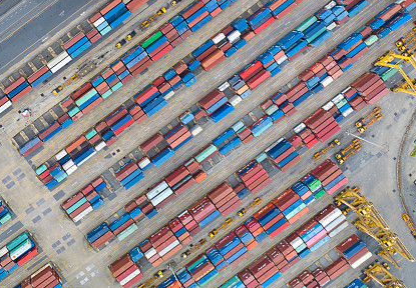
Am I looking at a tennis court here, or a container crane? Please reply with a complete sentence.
I can see a container crane in this picture.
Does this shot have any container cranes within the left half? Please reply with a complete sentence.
No, no container crane is visible within the left half.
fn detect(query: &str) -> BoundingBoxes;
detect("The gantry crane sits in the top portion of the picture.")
[373,51,416,93]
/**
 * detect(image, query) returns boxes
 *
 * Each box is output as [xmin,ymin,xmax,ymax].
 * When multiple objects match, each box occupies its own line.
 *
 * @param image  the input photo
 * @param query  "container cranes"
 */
[353,219,416,275]
[360,260,407,288]
[334,183,395,239]
[373,51,416,93]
